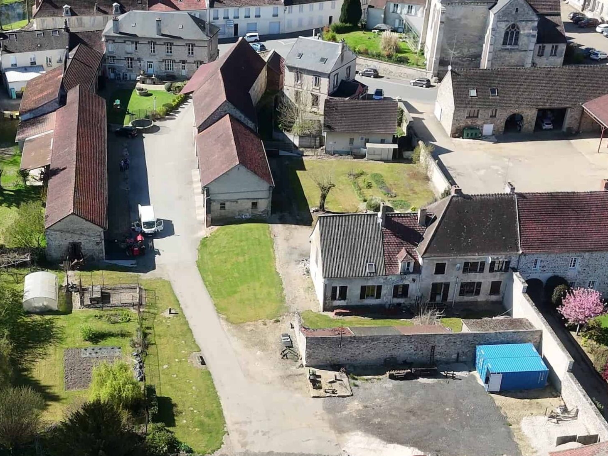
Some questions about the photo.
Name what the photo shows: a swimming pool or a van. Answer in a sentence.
The one in the frame is a van.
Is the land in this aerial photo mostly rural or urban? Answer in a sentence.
It looks urban.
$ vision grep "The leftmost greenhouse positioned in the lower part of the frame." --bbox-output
[24,273,65,312]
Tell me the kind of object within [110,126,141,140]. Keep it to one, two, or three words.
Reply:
car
